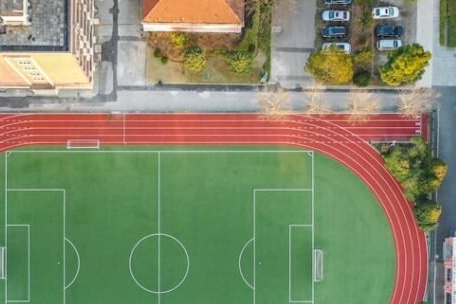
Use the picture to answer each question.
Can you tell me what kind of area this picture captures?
sports ground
